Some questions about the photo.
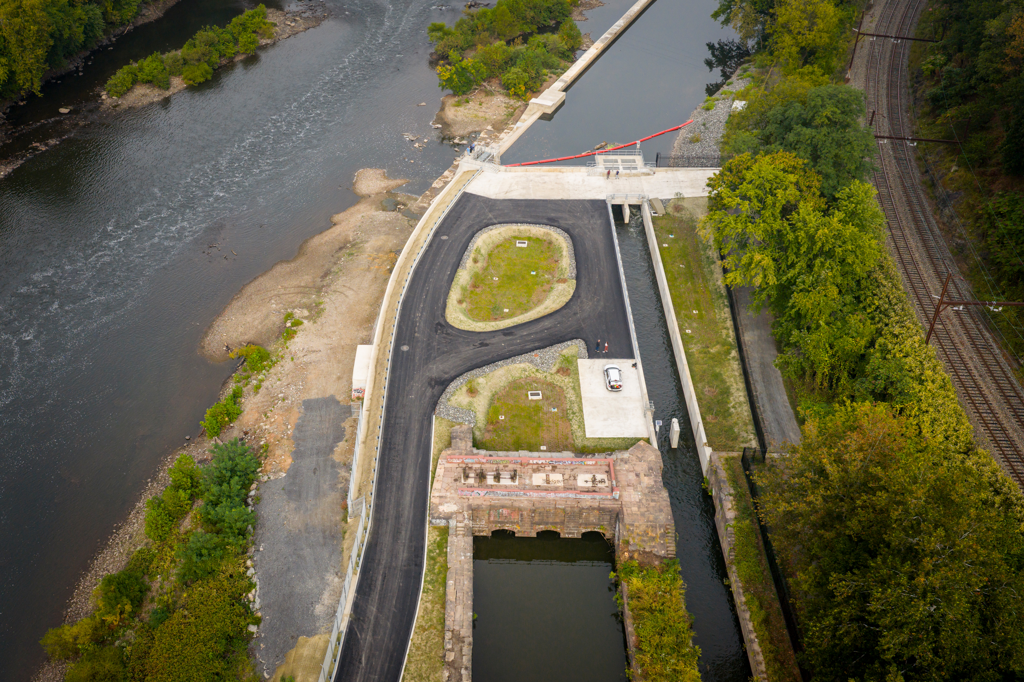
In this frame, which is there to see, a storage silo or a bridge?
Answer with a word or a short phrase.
bridge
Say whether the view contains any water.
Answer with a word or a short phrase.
Yes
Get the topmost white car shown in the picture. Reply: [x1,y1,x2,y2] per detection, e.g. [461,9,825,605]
[603,366,627,395]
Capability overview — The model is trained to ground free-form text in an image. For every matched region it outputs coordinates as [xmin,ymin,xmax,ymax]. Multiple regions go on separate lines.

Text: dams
[480,0,654,159]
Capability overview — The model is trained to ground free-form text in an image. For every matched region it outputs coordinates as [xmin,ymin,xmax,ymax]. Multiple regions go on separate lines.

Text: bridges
[606,187,650,226]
